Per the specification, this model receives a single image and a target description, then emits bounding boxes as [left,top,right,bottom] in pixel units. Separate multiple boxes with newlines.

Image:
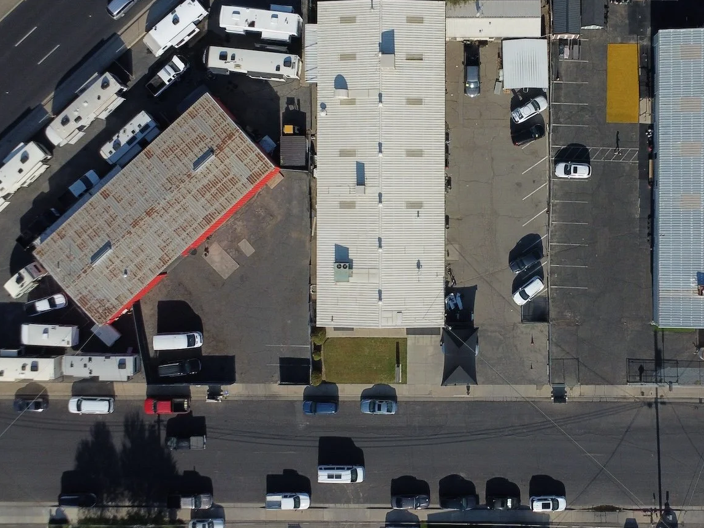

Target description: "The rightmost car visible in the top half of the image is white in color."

[554,162,591,180]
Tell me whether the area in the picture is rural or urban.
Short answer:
urban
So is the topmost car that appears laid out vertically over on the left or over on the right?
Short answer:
right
